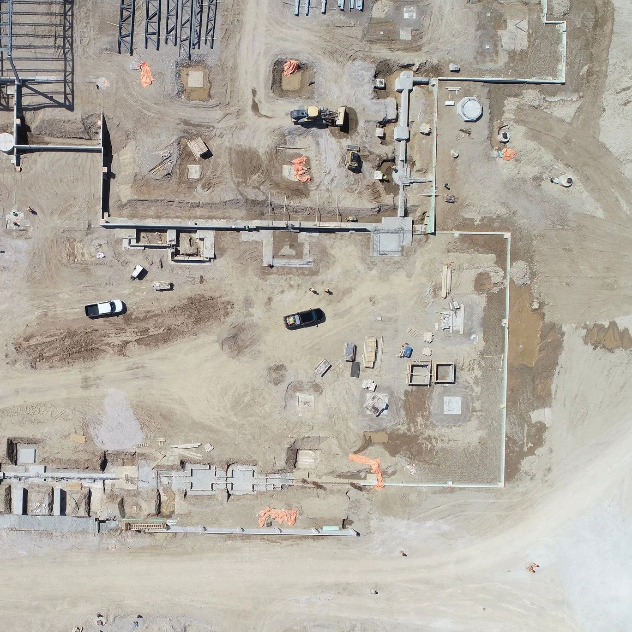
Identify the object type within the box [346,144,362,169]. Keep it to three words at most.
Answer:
work vehicle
